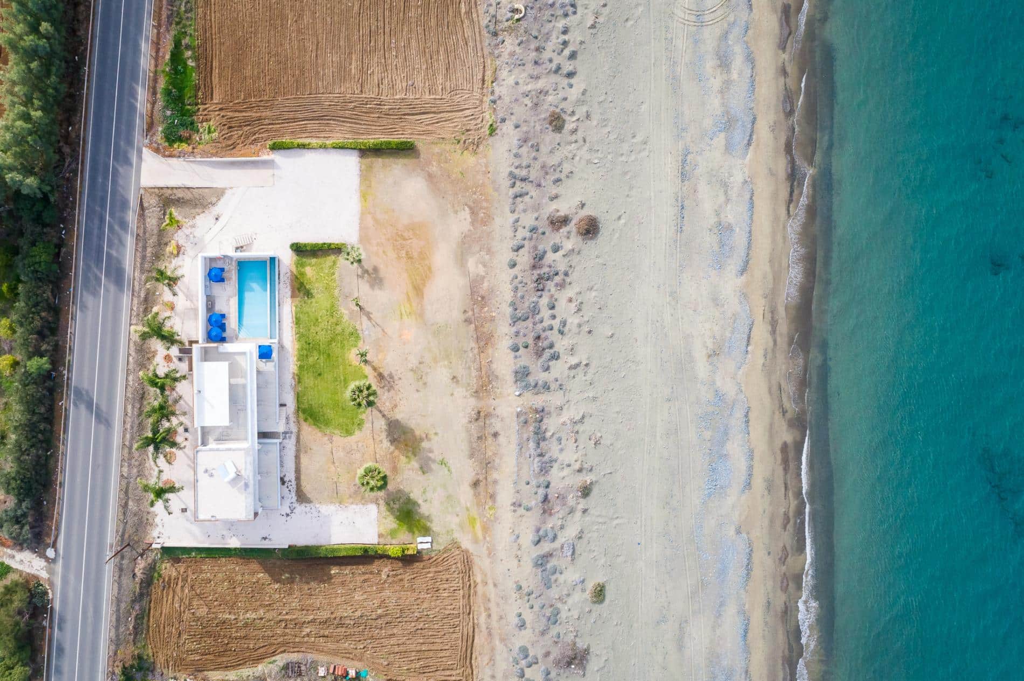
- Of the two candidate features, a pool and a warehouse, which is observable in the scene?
pool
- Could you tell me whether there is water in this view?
Yes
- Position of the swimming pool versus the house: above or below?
above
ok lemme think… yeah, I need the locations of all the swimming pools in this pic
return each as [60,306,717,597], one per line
[199,253,281,345]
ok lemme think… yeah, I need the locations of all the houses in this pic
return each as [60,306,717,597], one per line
[174,340,292,521]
